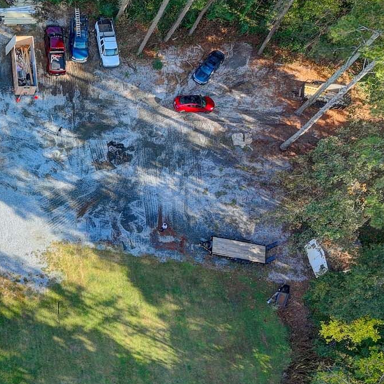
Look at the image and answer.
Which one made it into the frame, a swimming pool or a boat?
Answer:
boat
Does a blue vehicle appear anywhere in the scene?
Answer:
Yes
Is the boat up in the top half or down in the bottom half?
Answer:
bottom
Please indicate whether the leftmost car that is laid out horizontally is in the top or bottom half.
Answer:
top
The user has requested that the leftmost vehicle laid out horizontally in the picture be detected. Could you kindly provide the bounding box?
[171,93,215,115]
